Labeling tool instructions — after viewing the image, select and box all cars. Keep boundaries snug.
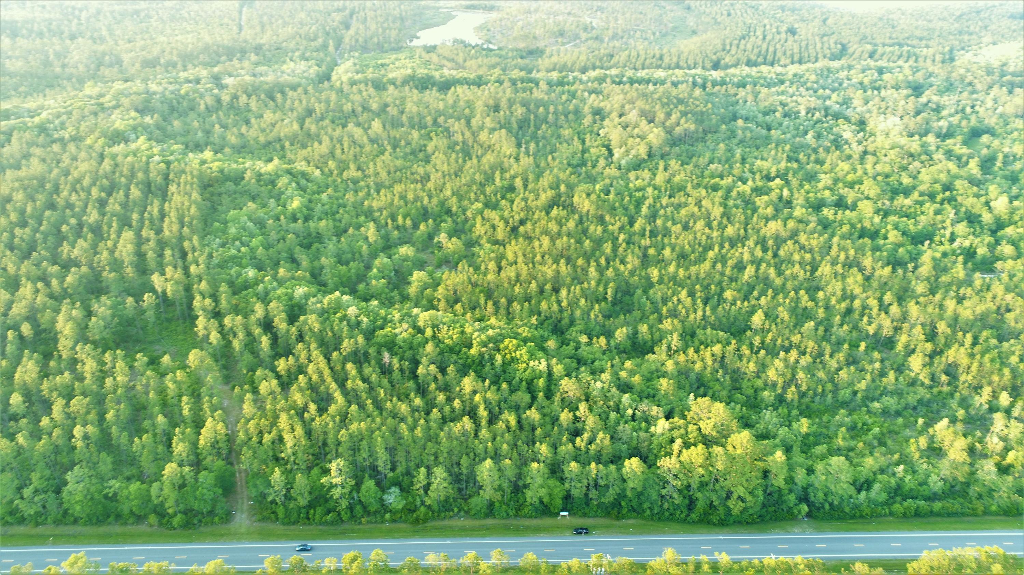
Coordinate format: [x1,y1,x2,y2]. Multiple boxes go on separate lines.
[297,543,313,551]
[573,527,588,534]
